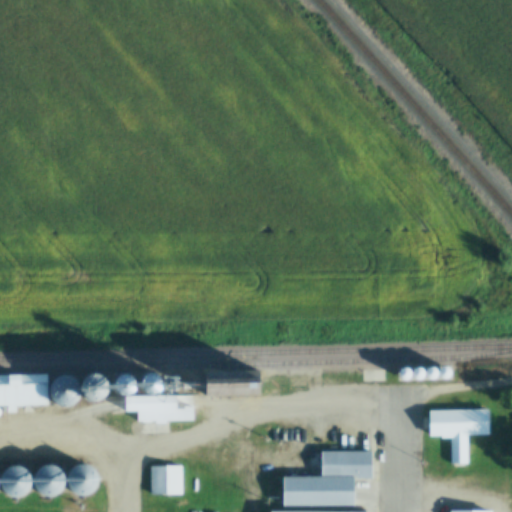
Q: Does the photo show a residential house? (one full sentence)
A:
Yes, there's a residential house down there.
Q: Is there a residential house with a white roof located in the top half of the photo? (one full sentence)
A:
No, no residential house with a white roof is visible in the top half of the photo.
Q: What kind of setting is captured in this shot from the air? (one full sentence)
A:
This image shows farmland.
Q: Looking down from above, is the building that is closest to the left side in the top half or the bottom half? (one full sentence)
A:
The building that is closest to the left side is in the bottom half of the image.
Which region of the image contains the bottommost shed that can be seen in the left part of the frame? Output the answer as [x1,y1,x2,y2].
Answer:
[151,465,184,496]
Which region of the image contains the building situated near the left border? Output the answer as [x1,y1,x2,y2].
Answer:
[0,374,48,413]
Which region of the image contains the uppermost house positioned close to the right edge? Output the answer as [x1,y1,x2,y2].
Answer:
[430,410,490,468]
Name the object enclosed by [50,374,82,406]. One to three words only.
silo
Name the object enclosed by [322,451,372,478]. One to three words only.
shed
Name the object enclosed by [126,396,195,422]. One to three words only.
shed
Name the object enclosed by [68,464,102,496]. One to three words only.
silo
